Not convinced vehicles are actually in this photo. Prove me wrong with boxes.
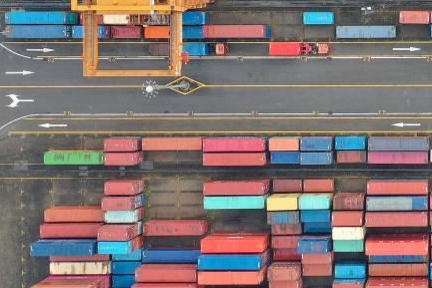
[301,41,331,56]
[209,42,229,57]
